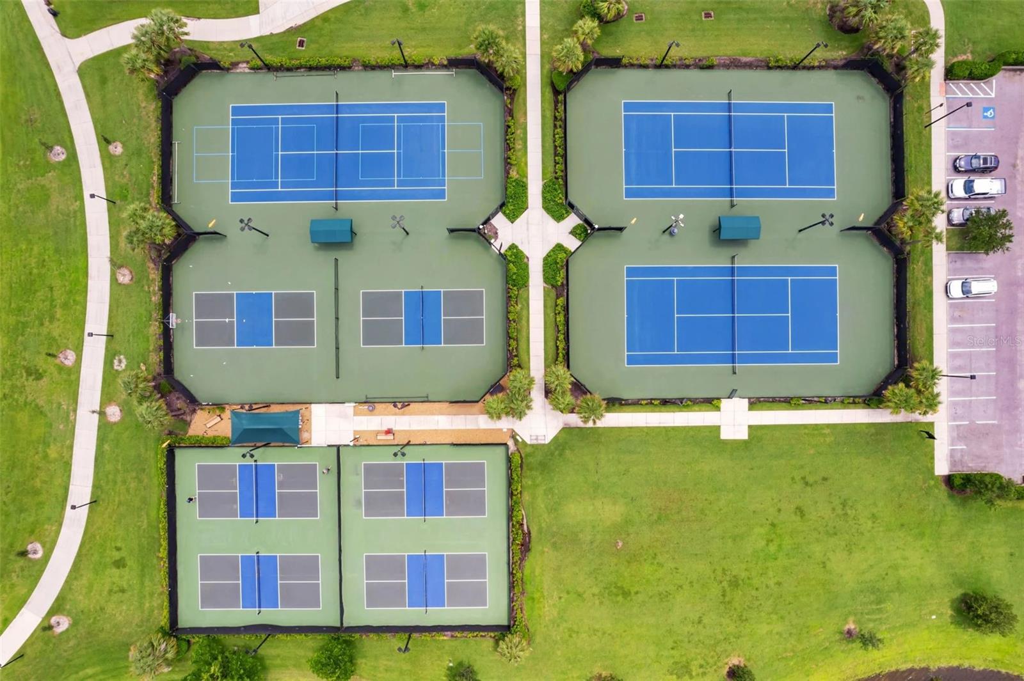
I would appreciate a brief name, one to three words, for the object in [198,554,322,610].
sports court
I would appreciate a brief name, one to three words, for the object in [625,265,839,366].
tennis court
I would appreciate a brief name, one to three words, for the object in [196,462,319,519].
sports court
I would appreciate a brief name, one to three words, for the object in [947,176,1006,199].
truck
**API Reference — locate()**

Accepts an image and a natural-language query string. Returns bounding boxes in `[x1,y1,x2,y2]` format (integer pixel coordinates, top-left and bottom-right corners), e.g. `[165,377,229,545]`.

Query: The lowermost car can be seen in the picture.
[946,277,997,299]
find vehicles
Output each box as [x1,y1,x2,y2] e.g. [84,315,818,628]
[952,152,1000,174]
[947,176,1006,199]
[947,202,990,224]
[946,277,997,299]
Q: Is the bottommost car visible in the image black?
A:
No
